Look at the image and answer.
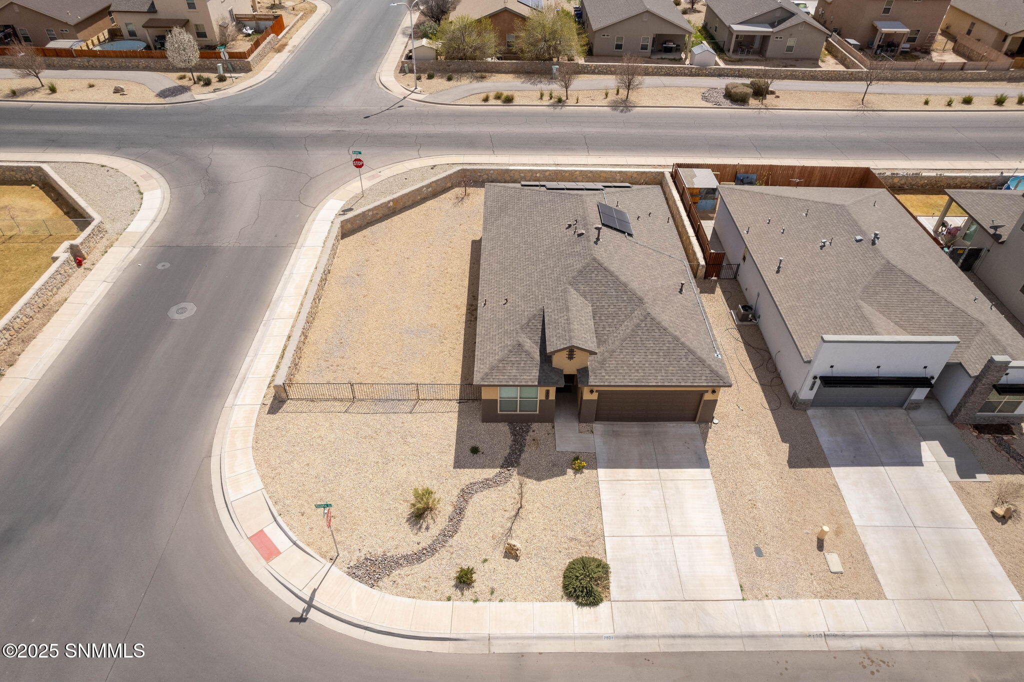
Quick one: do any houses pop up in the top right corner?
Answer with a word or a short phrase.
Yes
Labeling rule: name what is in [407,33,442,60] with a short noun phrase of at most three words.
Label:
shed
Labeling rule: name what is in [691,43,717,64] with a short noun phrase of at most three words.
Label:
shed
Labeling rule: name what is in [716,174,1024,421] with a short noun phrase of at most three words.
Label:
house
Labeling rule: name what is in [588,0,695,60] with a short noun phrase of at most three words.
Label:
house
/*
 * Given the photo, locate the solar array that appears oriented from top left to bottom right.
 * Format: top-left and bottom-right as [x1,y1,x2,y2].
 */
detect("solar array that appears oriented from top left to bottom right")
[598,202,633,235]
